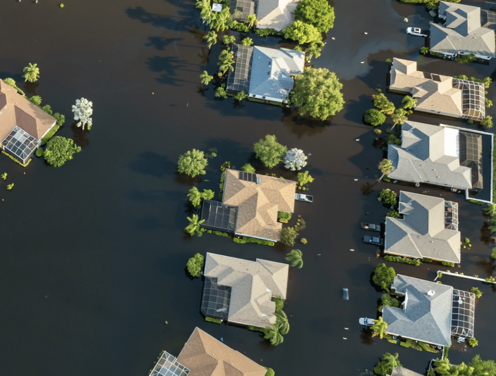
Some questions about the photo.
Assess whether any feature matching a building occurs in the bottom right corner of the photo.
Yes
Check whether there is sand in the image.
No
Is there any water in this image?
Yes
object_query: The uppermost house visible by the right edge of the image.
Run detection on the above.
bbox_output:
[429,2,496,61]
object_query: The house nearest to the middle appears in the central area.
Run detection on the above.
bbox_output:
[200,168,296,242]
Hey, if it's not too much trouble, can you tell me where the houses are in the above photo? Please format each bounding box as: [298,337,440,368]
[382,191,461,264]
[429,2,496,61]
[387,57,489,123]
[225,43,305,103]
[380,276,474,347]
[198,253,289,328]
[0,78,57,166]
[228,0,307,35]
[149,327,267,376]
[200,168,296,242]
[386,121,484,192]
